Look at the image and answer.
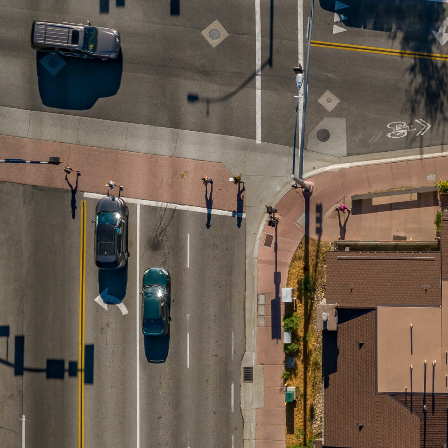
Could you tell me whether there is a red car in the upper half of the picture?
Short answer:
No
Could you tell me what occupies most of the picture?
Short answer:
paved ground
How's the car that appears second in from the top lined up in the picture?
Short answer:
up and down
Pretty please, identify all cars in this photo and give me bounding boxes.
[89,197,127,271]
[30,19,120,61]
[138,266,171,336]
